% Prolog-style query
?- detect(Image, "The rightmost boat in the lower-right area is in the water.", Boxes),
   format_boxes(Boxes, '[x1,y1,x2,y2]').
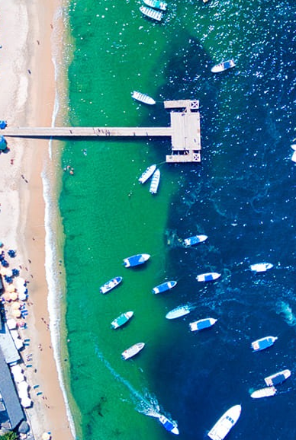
[265,371,292,386]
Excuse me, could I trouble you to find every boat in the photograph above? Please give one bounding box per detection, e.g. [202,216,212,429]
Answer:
[211,59,237,71]
[208,404,240,440]
[140,8,163,21]
[195,272,221,283]
[144,0,169,10]
[131,90,155,104]
[121,343,144,361]
[157,414,179,434]
[250,386,278,398]
[165,305,192,318]
[250,338,277,353]
[150,169,160,195]
[137,165,156,185]
[99,278,122,293]
[265,371,292,386]
[152,281,178,296]
[122,255,151,269]
[249,262,273,271]
[189,318,217,333]
[109,312,134,331]
[183,236,208,247]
